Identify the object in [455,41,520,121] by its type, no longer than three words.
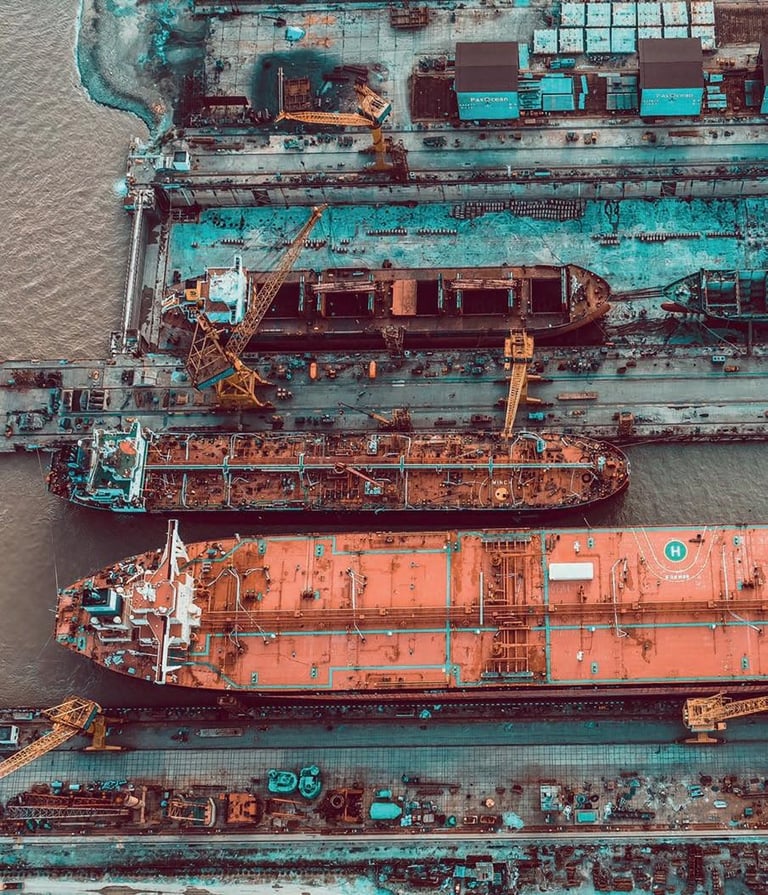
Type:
shed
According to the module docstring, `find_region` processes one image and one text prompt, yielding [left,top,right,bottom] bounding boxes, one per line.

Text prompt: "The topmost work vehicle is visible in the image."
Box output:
[262,15,289,30]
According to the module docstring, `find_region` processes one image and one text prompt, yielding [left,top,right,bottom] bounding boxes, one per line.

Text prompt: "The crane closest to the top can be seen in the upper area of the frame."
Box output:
[273,77,399,167]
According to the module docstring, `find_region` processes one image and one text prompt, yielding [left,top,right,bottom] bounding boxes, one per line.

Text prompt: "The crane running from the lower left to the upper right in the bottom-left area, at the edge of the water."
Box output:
[0,676,125,780]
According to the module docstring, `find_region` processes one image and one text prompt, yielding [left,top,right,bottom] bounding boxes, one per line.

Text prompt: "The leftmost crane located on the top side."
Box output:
[190,201,328,413]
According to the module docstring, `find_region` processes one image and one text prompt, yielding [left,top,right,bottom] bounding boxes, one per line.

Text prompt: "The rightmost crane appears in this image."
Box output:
[680,688,768,742]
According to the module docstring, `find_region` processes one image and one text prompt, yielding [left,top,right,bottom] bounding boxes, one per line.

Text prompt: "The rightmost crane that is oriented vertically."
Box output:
[502,323,541,441]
